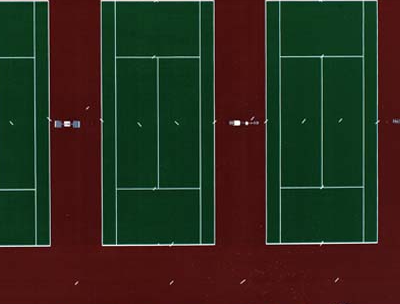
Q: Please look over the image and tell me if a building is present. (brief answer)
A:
No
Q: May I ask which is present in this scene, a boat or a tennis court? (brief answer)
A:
tennis court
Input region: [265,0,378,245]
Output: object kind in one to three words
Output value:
tennis court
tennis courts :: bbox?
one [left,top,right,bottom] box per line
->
[265,0,378,245]
[0,0,51,248]
[101,0,216,247]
